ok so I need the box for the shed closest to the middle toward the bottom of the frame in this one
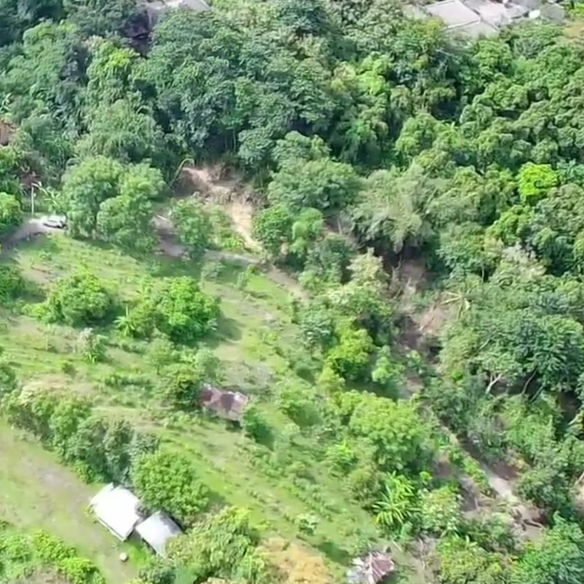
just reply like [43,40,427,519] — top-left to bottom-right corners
[198,385,252,425]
